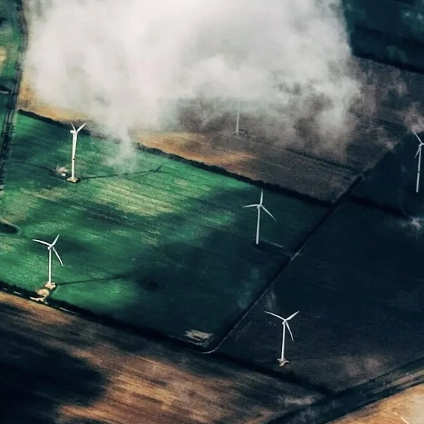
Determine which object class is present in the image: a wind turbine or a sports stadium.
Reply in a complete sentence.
Of the two, only a wind turbine appears.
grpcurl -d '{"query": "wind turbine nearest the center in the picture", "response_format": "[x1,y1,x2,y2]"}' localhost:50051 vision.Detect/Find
[244,191,275,244]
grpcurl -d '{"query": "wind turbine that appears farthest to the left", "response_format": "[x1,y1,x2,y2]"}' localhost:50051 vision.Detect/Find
[34,233,61,283]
